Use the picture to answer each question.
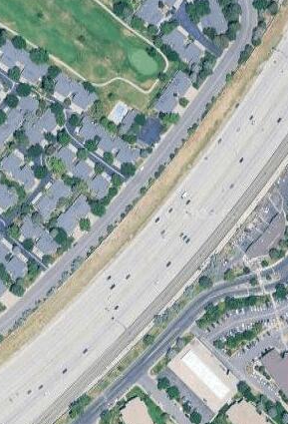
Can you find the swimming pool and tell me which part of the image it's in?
top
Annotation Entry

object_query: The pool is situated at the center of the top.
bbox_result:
[107,104,128,124]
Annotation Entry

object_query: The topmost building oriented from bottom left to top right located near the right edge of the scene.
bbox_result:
[247,213,286,254]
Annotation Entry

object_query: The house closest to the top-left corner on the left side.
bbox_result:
[0,40,49,84]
